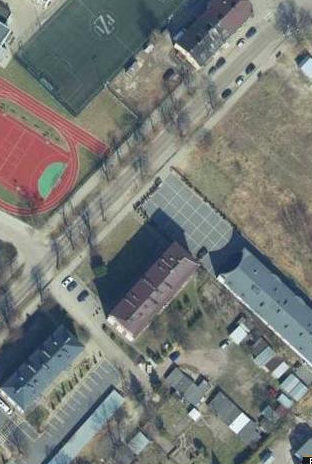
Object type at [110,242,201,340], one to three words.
building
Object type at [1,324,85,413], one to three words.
building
